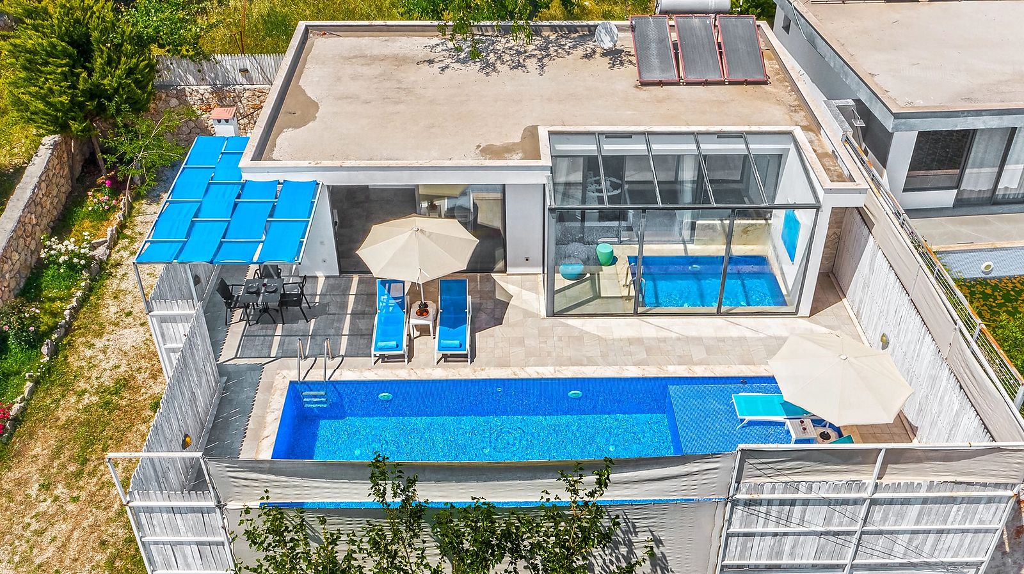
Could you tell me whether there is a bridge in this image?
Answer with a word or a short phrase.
No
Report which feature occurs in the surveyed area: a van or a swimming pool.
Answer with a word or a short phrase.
swimming pool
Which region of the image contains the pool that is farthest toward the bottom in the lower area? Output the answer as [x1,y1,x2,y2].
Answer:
[229,365,872,551]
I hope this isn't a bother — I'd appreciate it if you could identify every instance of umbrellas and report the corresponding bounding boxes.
[355,212,481,315]
[766,329,914,439]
